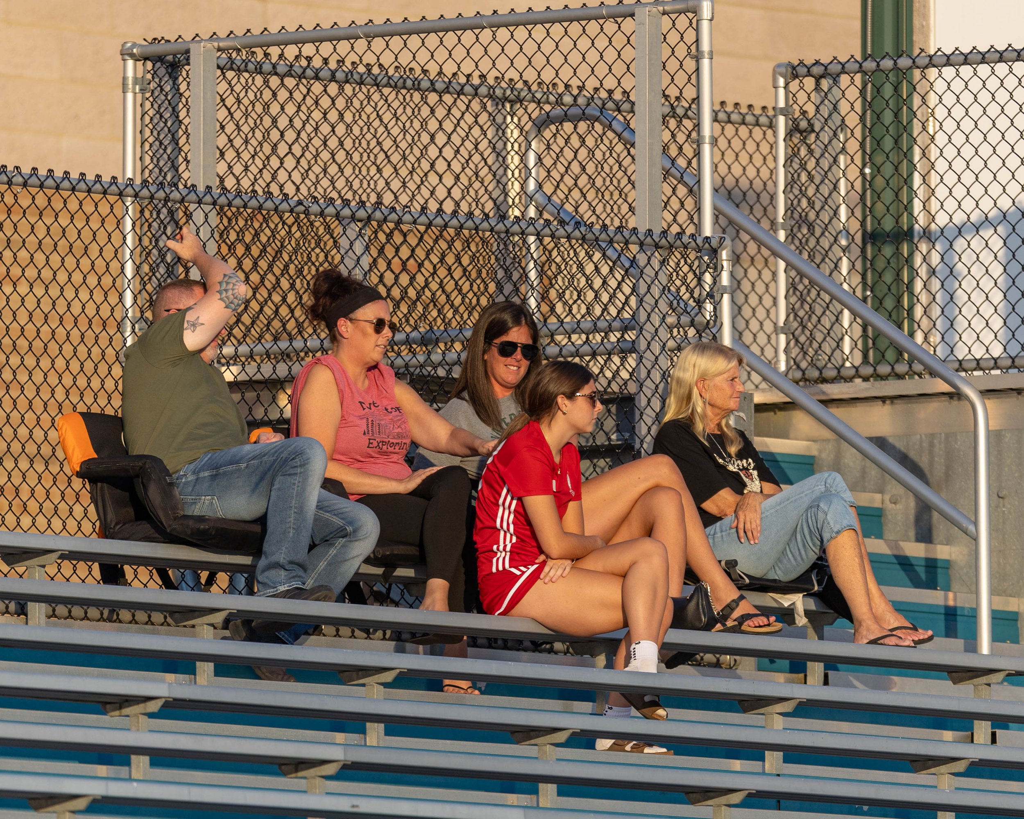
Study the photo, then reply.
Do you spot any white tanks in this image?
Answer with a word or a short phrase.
No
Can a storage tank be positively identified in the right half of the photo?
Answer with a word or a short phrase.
No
